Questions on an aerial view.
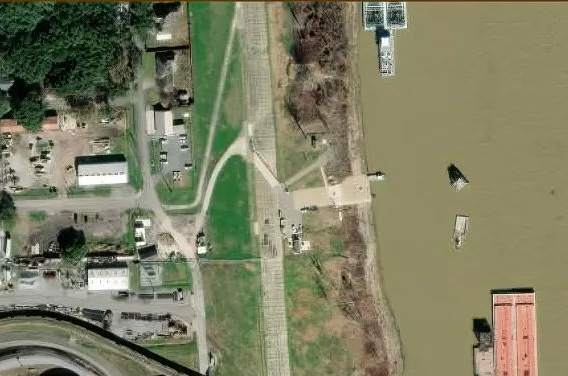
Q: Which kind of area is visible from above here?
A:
port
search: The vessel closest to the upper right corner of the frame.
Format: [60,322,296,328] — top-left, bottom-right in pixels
[386,0,406,27]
